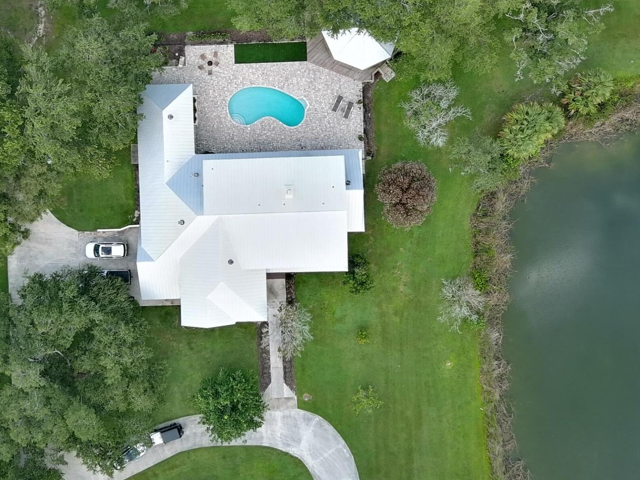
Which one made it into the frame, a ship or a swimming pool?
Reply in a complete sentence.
This aerial view contains a swimming pool.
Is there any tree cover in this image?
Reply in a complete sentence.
Yes, there is tree cover in the image.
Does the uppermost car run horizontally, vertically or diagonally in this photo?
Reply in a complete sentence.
In this picture, the uppermost car lies horizontally.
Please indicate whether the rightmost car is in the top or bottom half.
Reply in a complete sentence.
The bottom half of the photo is where the rightmost car is.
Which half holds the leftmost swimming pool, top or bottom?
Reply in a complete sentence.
You can find the leftmost swimming pool in the top half.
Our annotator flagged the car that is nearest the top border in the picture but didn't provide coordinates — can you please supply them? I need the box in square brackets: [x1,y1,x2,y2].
[85,241,127,261]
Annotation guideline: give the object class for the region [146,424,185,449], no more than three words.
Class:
car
